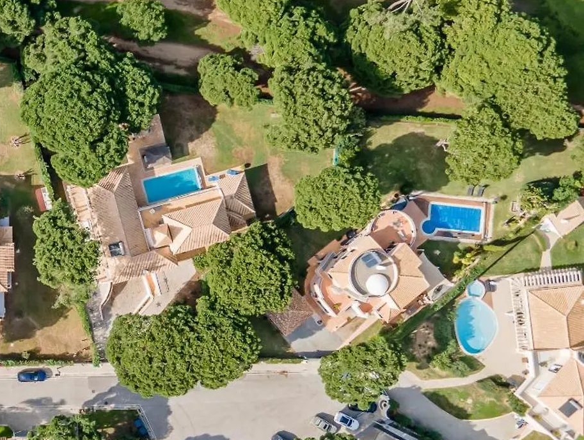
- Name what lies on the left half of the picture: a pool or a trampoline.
pool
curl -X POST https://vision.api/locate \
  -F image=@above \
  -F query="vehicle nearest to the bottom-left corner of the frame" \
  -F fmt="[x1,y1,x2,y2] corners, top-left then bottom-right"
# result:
[18,368,48,384]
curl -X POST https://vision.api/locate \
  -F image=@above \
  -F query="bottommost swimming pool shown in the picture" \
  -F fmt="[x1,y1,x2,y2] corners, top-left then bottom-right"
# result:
[454,295,500,356]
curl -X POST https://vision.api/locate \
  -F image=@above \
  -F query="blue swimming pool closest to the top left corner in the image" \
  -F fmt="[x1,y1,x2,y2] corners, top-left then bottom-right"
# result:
[140,164,205,206]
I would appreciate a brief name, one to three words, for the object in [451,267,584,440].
house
